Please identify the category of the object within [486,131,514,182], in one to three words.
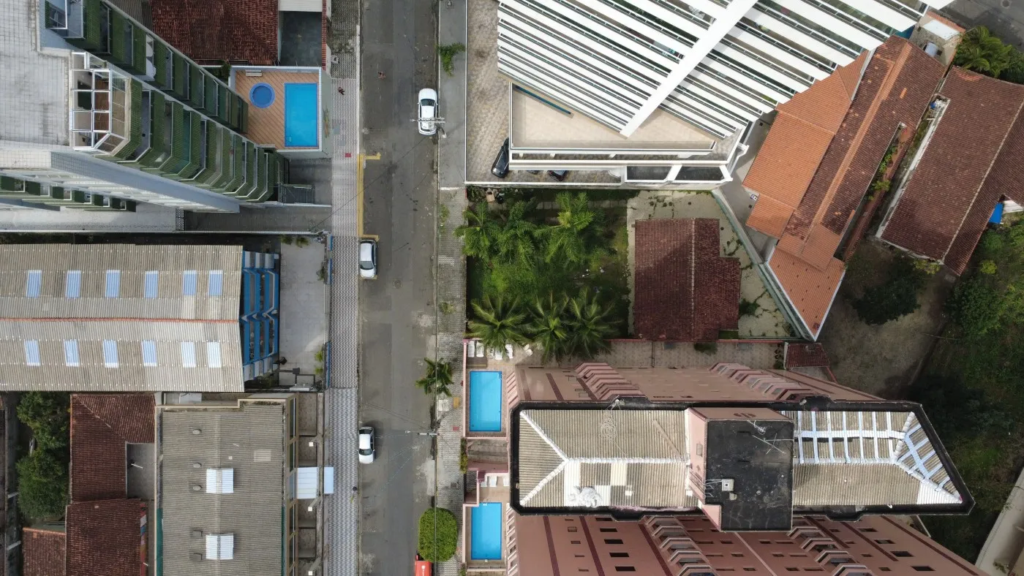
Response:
car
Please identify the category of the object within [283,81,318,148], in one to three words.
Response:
swimming pool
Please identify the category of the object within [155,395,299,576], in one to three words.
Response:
building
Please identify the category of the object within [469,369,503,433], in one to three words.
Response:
swimming pool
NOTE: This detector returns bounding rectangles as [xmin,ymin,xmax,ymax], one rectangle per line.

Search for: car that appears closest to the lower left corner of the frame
[356,426,377,465]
